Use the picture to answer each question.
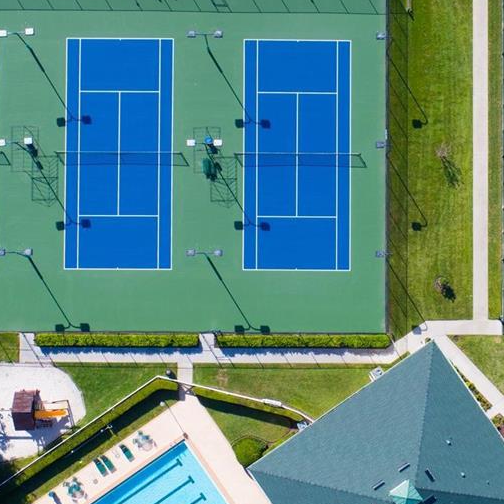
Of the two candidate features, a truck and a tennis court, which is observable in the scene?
tennis court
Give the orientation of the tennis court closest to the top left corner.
from top to bottom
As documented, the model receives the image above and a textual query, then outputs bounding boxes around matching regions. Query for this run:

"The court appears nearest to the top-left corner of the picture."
[64,37,174,270]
